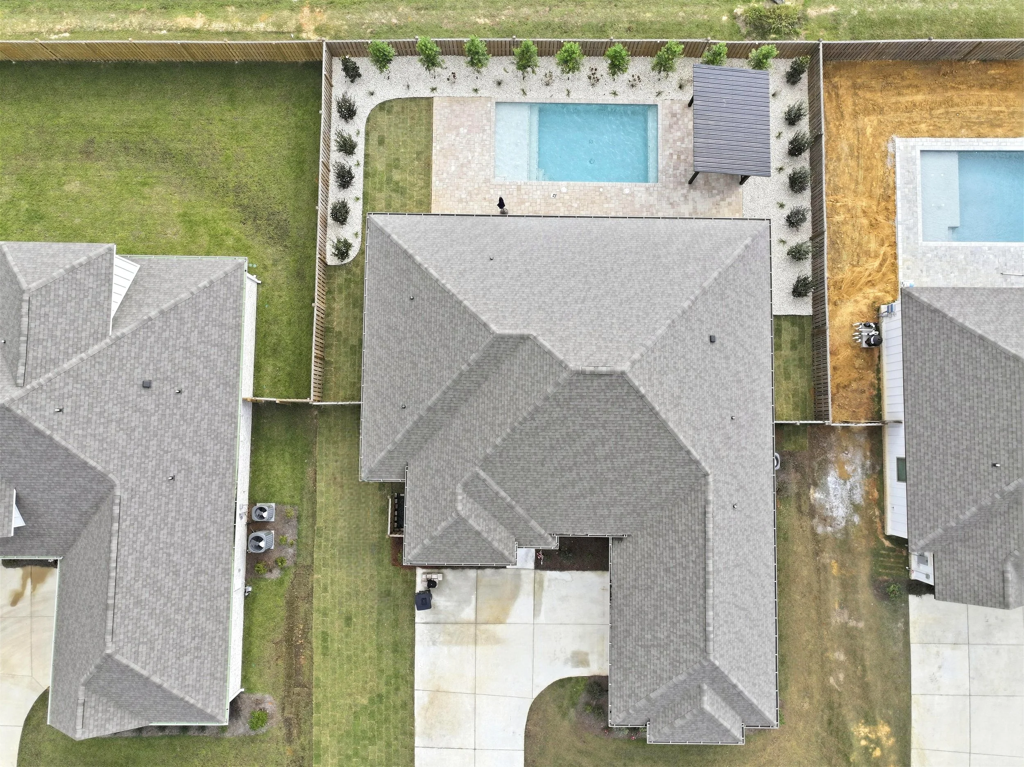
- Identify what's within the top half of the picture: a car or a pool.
pool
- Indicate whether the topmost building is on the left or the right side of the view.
right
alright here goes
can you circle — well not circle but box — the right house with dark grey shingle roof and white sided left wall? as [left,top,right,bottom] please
[871,287,1024,610]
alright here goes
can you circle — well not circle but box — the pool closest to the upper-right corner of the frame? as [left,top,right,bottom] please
[916,146,1024,247]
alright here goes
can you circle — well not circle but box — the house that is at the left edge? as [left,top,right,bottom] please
[0,240,264,741]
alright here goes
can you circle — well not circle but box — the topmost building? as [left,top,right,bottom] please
[690,62,771,184]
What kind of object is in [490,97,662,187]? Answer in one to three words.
swimming pool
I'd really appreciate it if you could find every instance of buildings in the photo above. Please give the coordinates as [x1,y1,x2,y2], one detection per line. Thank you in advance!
[359,213,778,745]
[871,287,1024,610]
[690,62,771,184]
[0,240,264,741]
